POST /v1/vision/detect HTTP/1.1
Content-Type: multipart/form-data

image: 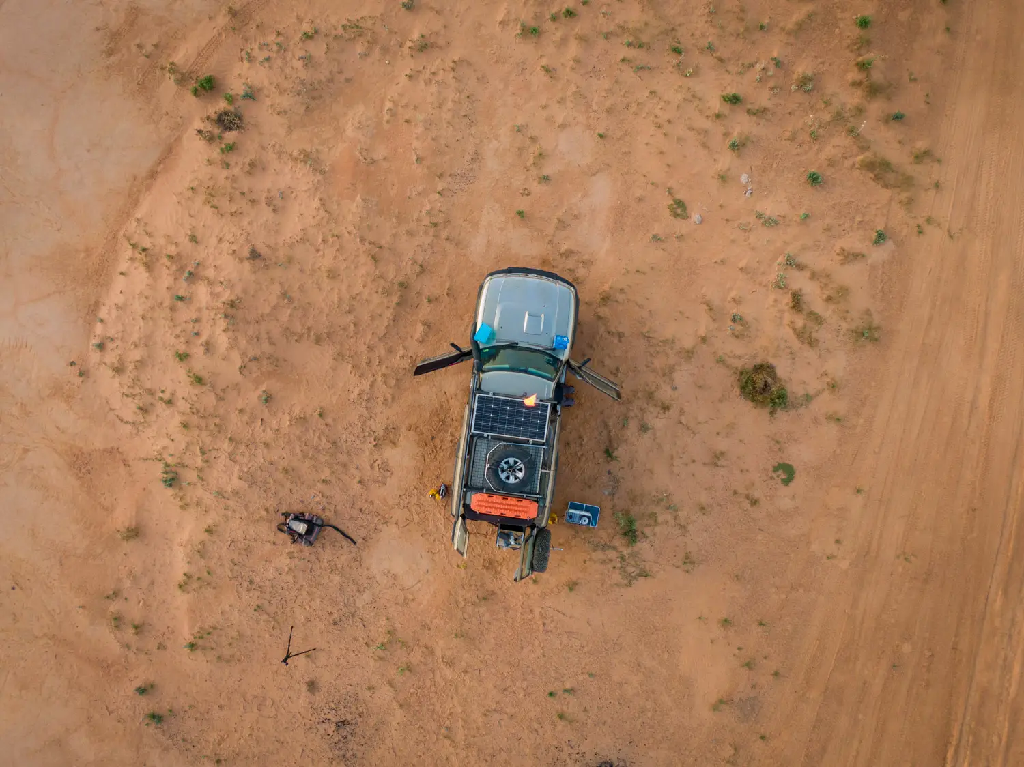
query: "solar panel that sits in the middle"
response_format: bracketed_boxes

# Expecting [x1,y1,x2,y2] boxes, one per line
[472,395,550,441]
